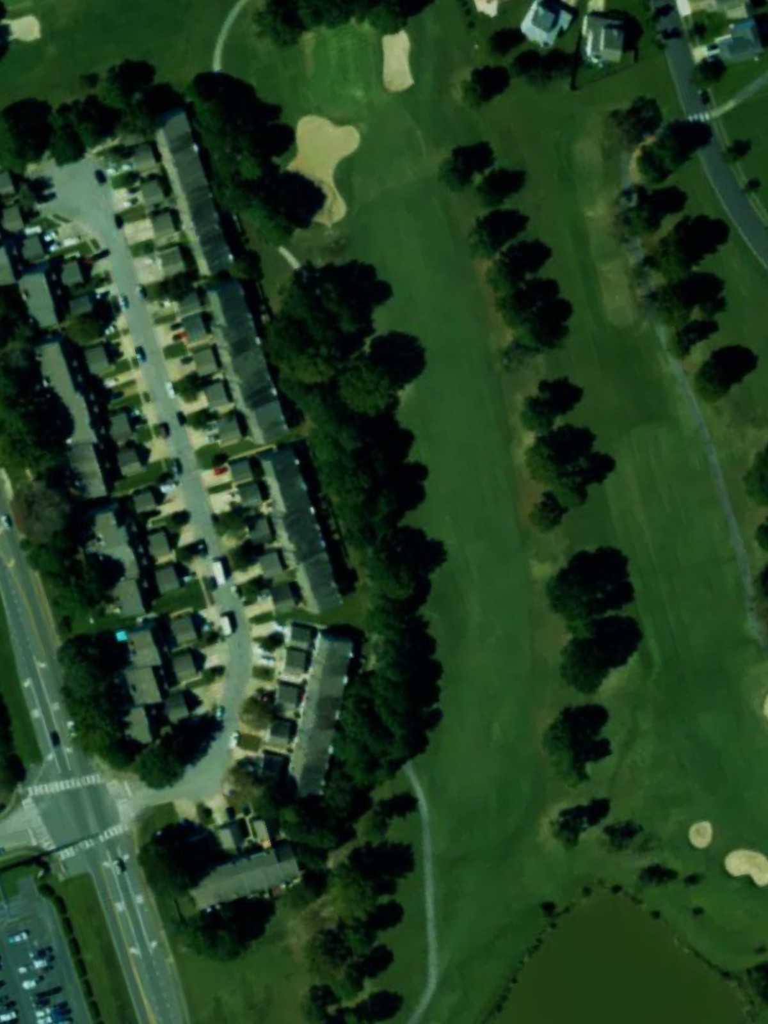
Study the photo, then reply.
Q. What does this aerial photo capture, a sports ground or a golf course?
golf course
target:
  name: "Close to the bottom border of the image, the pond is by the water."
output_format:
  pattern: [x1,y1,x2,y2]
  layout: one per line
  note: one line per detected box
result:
[489,892,745,1024]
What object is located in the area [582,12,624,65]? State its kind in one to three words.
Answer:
house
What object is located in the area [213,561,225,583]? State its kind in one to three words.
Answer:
vehicle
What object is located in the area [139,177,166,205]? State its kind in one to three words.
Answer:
building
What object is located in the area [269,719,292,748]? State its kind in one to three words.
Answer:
building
